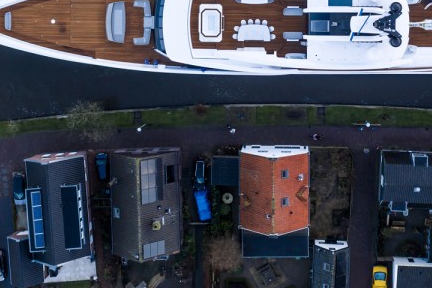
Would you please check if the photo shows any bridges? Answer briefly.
No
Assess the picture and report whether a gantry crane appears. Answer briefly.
No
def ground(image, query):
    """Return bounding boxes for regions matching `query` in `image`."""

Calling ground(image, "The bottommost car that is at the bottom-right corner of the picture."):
[373,262,390,288]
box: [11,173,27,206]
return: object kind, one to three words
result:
car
